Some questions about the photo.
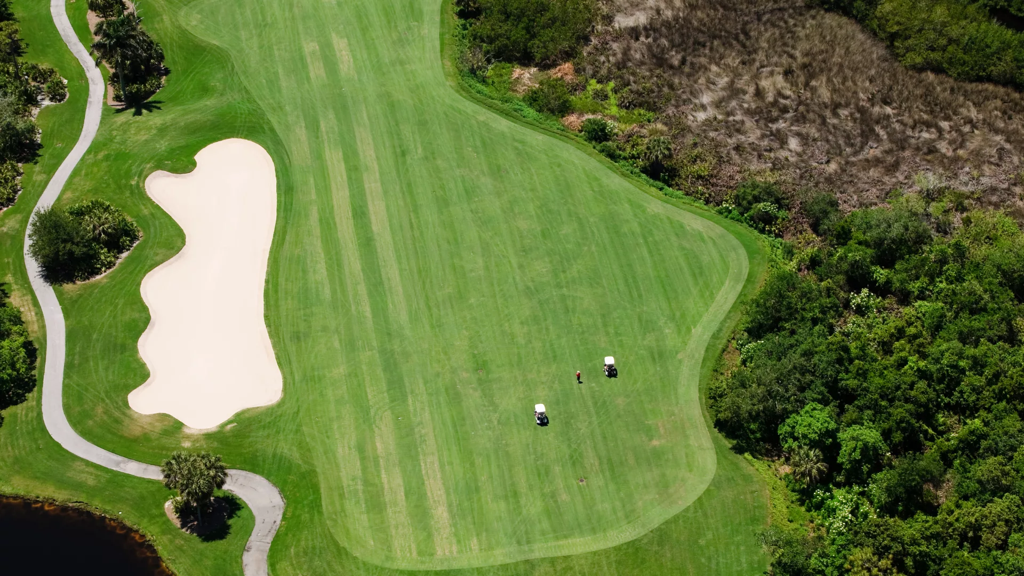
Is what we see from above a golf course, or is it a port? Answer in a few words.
golf course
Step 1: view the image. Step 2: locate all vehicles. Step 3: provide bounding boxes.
[534,403,547,426]
[604,356,616,378]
